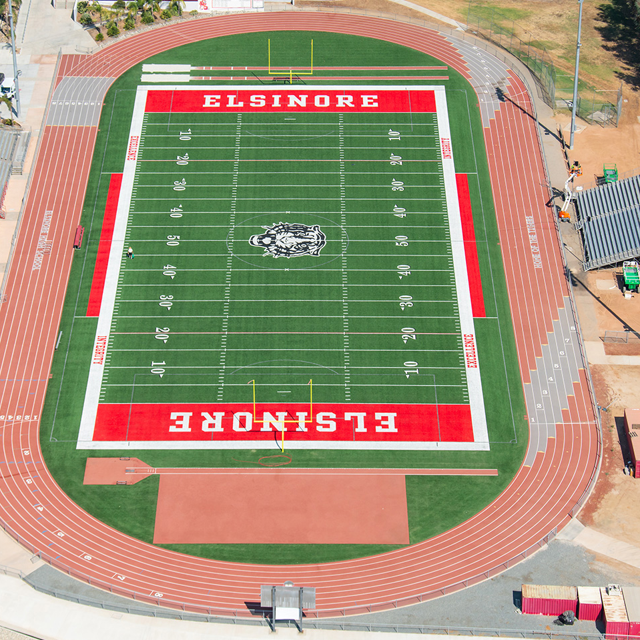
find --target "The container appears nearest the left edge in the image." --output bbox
[522,585,579,617]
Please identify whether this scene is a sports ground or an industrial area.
sports ground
